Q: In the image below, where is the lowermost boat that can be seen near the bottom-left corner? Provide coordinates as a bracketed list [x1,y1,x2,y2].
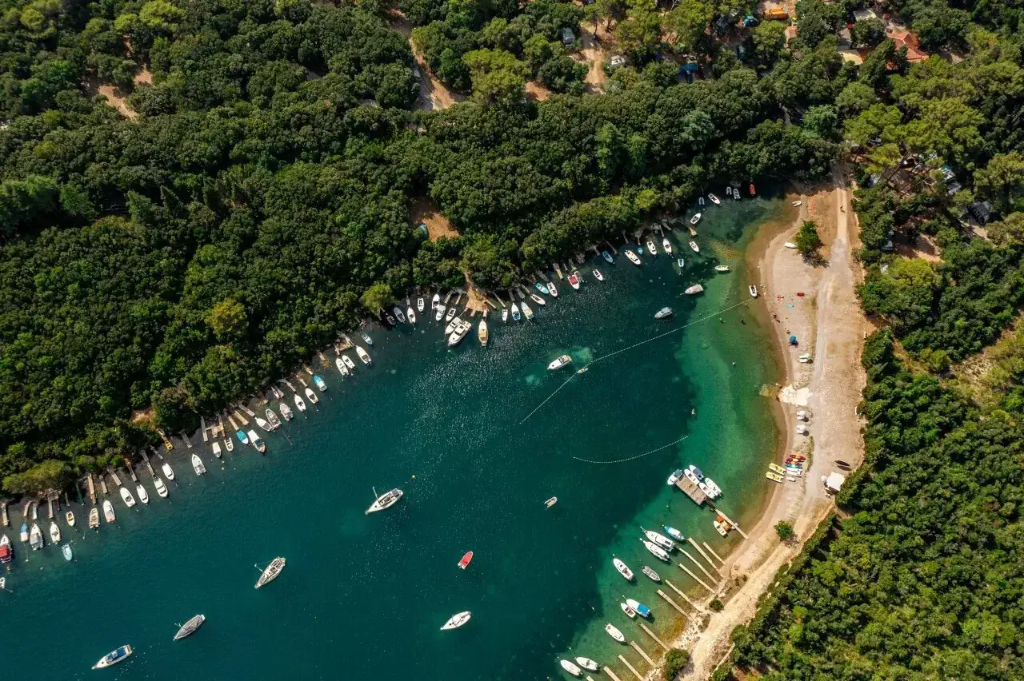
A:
[89,643,135,669]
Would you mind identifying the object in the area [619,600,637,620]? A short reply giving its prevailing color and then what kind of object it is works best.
white boat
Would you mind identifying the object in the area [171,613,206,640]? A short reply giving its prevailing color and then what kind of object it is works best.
gray boat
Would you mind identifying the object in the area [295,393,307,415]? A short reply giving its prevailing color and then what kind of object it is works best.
white boat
